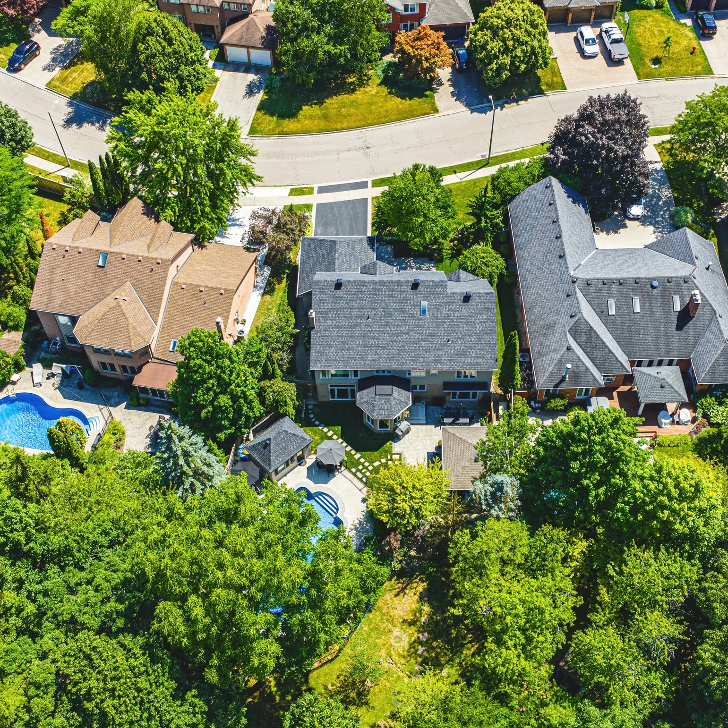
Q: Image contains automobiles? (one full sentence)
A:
Yes, the frame does contain an automobile.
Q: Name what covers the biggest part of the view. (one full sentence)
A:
Most of the picture is covered by trees.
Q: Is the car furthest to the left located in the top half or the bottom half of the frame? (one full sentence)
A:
The car furthest to the left sits in the top half of the picture.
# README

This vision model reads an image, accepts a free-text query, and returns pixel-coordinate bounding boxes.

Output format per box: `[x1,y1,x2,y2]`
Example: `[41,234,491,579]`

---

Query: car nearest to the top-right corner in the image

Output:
[693,8,719,33]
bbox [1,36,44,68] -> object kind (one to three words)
car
